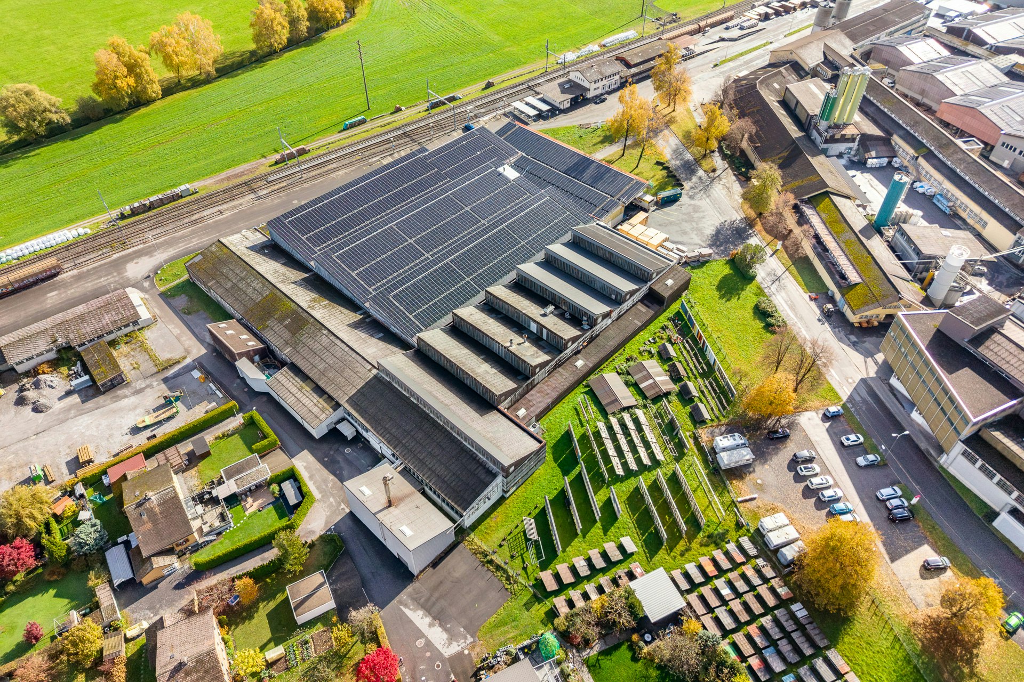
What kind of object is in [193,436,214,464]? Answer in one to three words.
shed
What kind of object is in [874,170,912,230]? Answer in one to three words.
silo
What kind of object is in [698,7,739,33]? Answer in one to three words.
rail car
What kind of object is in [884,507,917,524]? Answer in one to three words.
car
